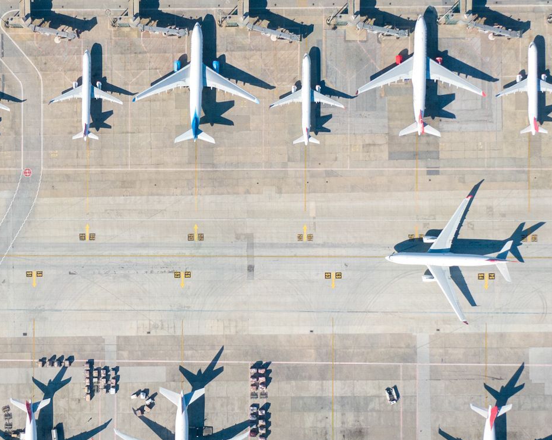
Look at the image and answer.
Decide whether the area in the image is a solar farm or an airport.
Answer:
airport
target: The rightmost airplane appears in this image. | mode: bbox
[497,42,552,135]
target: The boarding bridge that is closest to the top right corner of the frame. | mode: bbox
[466,21,523,39]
